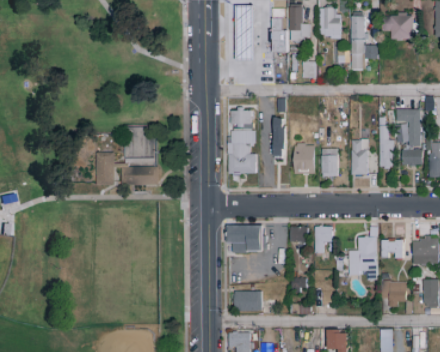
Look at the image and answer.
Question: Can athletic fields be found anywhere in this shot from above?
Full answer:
Yes, looking at the shot, I can spot an athletic field.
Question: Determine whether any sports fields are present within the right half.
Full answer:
No, within the right half there is no sports field.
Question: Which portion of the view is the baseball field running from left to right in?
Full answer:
The baseball field running from left to right is located in the bottom left region of the scene.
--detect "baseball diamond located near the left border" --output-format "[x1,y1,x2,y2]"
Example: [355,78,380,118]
[0,316,160,352]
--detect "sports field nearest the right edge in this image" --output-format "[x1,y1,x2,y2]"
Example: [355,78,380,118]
[92,202,159,324]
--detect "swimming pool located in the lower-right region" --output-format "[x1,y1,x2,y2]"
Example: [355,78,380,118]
[352,278,366,298]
